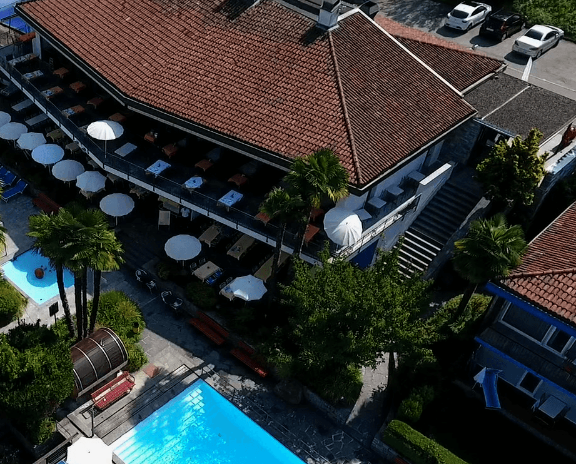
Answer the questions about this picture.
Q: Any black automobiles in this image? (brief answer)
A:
Yes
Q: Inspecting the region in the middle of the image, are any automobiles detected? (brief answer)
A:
No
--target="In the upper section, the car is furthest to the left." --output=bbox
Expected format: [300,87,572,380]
[443,6,492,36]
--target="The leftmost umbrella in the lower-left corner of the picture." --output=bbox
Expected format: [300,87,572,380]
[66,435,115,464]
